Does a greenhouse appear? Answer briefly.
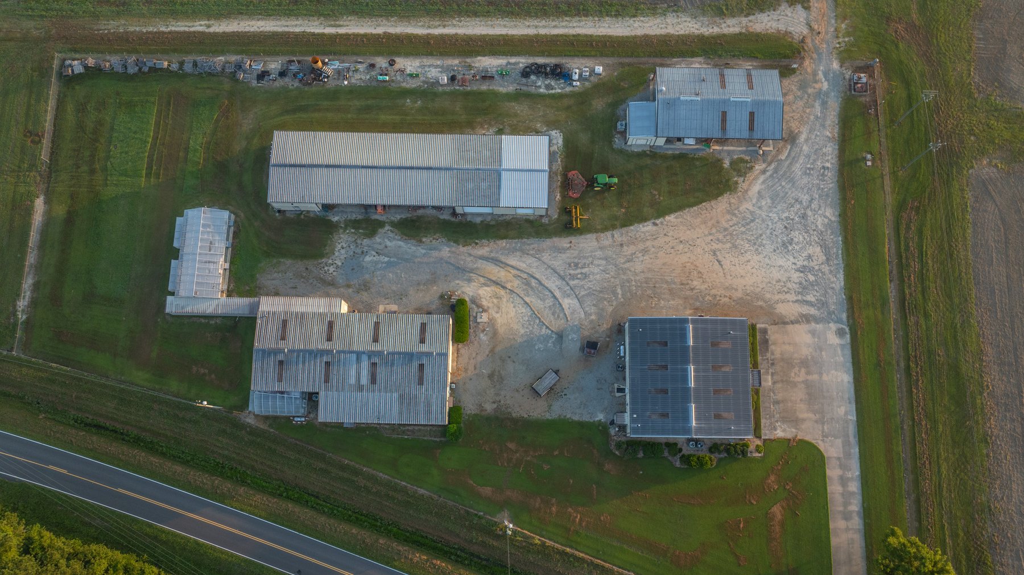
Yes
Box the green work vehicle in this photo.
[596,173,617,188]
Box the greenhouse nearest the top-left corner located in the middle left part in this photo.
[168,206,235,298]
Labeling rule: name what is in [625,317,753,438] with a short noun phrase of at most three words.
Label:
building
